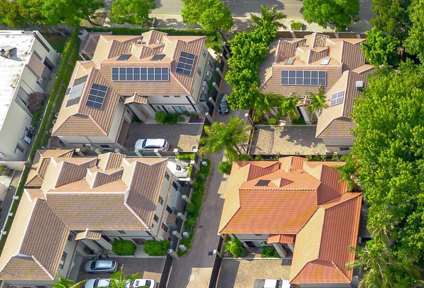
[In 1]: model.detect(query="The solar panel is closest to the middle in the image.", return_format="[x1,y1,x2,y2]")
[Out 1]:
[177,50,195,76]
